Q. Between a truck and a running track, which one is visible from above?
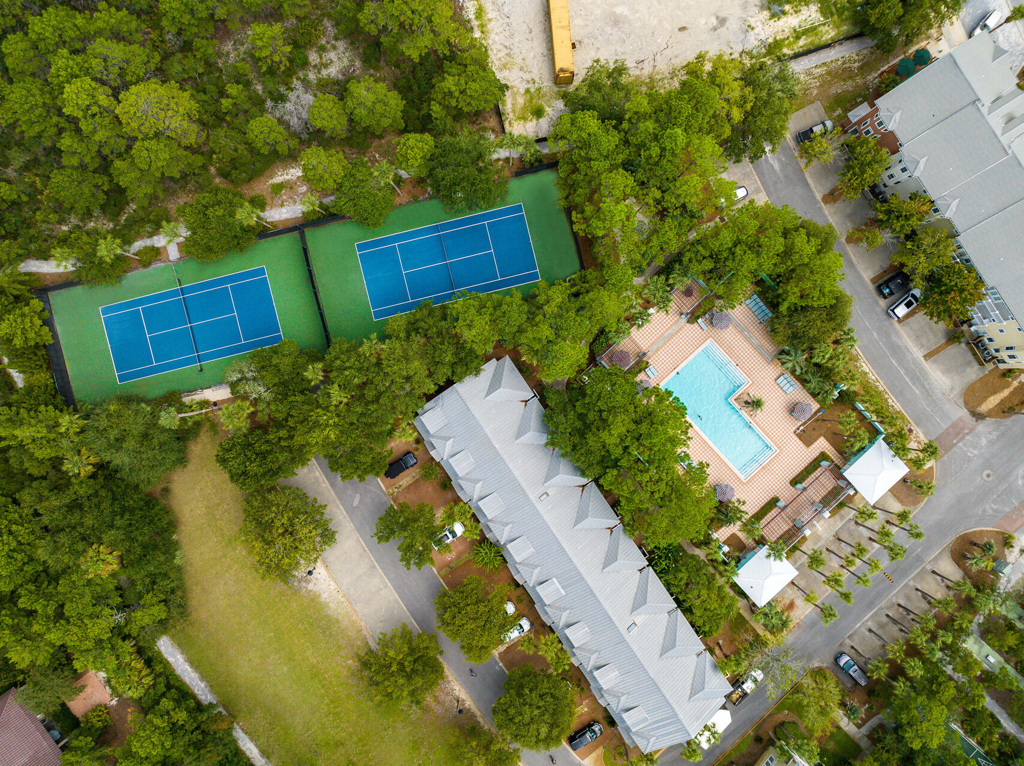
truck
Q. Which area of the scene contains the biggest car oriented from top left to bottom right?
bottom right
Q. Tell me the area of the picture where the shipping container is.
top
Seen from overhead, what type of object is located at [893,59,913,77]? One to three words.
umbrella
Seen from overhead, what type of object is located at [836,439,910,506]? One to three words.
building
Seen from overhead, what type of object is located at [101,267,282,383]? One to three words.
tennis court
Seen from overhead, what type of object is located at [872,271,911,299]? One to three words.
truck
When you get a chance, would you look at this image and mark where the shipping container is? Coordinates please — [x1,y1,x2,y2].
[547,0,574,85]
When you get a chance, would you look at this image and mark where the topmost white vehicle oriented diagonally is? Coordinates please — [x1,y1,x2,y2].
[969,6,1005,33]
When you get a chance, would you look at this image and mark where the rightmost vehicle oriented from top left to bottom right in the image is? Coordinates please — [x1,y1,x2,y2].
[835,652,869,687]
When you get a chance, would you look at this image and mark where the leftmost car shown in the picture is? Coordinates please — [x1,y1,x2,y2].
[385,453,418,479]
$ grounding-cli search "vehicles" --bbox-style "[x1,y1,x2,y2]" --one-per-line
[885,291,921,318]
[872,271,911,299]
[502,600,518,620]
[969,6,1005,33]
[568,722,603,752]
[499,618,533,644]
[437,523,467,553]
[724,668,764,708]
[715,185,749,210]
[835,652,869,687]
[385,453,418,479]
[795,119,834,145]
